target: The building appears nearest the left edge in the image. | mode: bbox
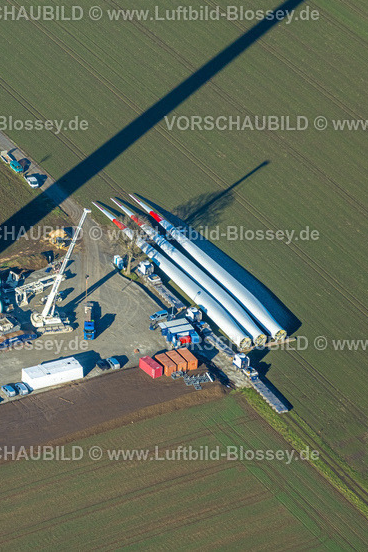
[24,364,51,389]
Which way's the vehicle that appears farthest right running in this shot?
on a diagonal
